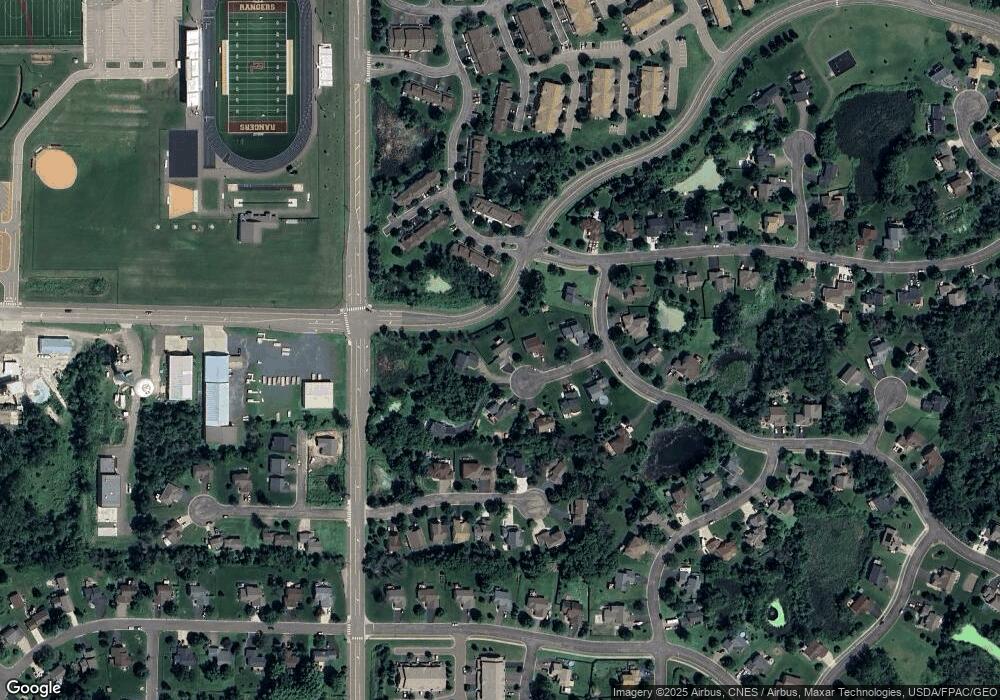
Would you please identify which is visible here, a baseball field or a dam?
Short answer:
baseball field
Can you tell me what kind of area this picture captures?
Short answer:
residential area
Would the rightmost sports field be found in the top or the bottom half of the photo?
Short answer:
top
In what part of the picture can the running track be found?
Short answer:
top left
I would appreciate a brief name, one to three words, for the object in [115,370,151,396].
water tower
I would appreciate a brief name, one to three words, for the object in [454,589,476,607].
house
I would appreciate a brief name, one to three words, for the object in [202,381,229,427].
building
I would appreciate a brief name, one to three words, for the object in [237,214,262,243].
shed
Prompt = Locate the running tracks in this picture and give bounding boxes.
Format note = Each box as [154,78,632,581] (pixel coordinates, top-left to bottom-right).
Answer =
[203,0,311,172]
